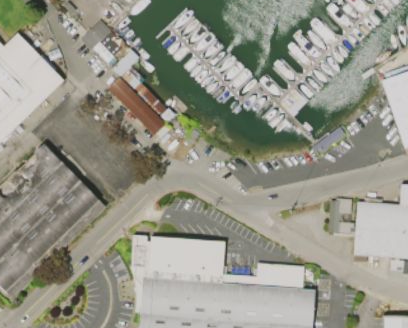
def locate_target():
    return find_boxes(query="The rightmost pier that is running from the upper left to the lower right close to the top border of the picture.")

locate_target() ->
[156,8,244,102]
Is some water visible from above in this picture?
Yes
